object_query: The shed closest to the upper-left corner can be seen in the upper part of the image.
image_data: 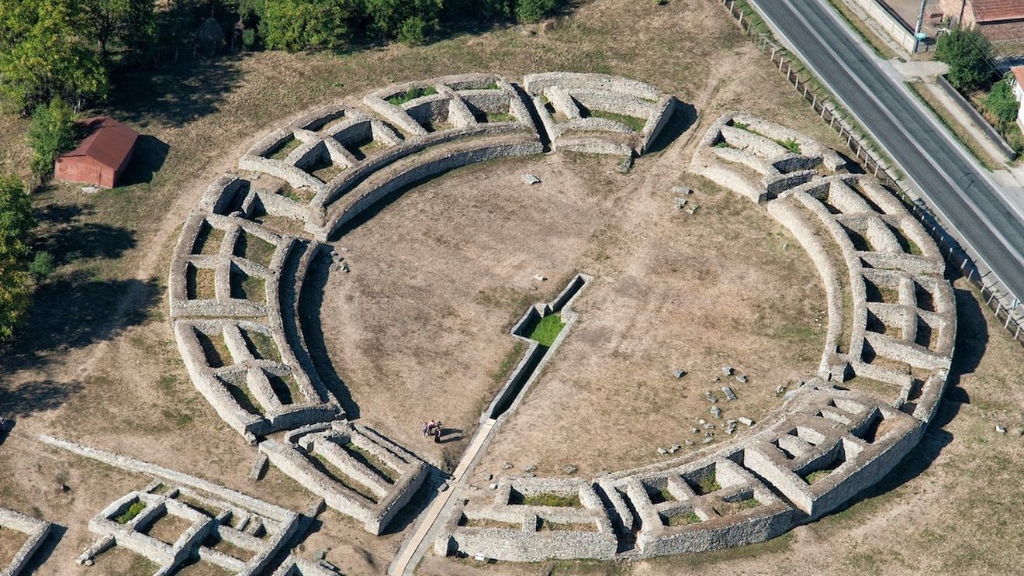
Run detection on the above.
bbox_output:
[55,119,134,187]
